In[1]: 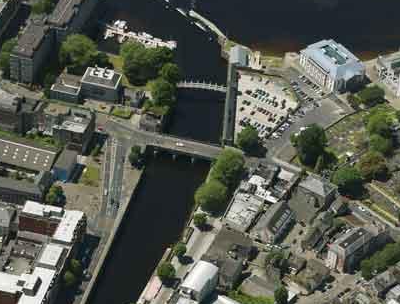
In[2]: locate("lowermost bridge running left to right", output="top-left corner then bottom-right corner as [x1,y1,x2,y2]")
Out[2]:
[141,137,219,172]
